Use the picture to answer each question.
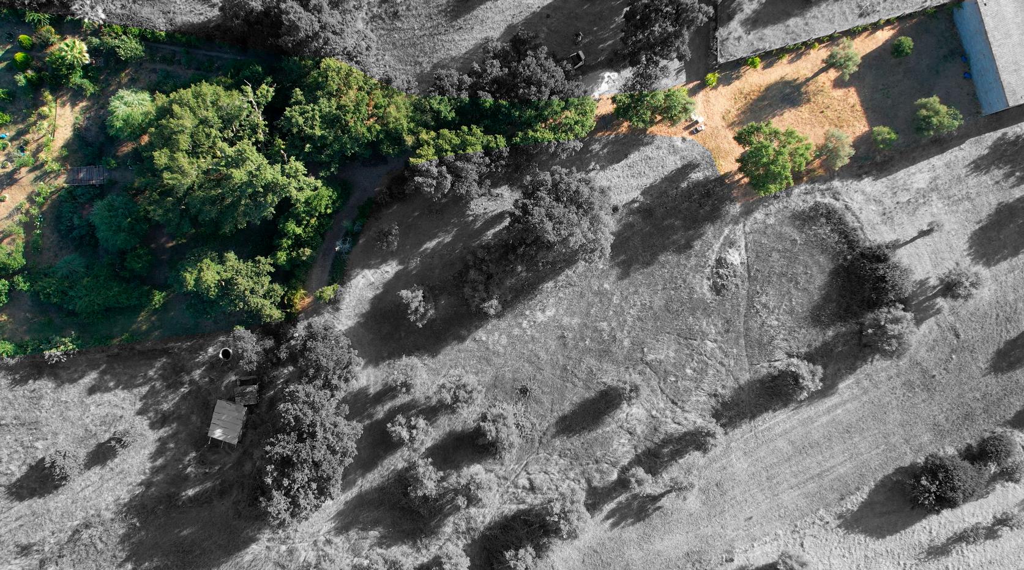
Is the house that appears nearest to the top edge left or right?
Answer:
right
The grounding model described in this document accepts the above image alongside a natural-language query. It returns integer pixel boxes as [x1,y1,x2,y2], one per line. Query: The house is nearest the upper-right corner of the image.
[955,0,1024,115]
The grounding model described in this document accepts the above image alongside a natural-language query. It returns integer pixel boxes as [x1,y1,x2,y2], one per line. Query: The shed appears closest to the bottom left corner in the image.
[205,397,256,452]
